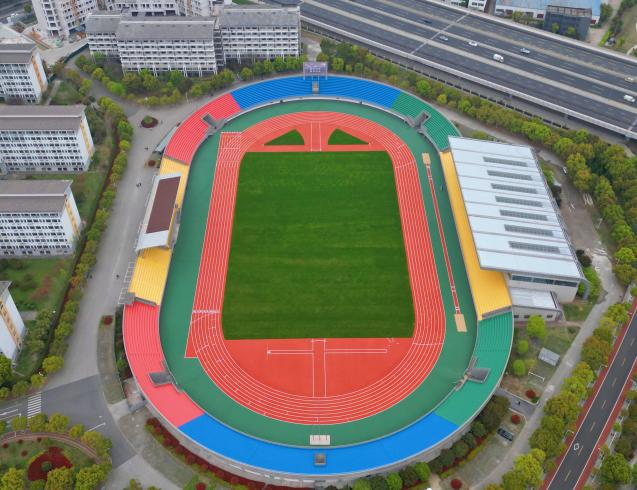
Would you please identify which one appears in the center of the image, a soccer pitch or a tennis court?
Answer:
soccer pitch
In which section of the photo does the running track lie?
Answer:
center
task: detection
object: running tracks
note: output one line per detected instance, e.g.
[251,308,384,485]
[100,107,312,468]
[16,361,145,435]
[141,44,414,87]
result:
[184,111,446,425]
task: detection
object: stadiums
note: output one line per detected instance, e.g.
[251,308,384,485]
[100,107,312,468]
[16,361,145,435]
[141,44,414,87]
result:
[118,76,514,487]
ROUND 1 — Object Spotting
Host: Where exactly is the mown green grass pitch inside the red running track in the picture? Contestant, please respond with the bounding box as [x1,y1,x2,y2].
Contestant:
[220,128,417,340]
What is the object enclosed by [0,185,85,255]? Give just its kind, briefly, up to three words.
building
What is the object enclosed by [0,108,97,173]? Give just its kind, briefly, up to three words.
building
